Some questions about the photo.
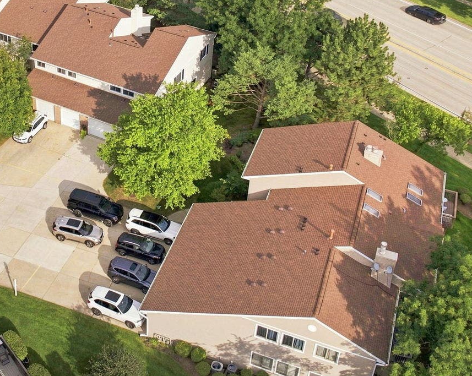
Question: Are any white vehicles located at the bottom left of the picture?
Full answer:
Yes, looking at the bottom left of the picture, one can make out a white vehicle.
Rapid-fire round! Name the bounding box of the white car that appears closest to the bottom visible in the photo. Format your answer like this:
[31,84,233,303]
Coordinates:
[85,285,144,328]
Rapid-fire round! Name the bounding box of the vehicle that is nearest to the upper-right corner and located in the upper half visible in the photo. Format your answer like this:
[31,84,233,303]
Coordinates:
[405,3,446,24]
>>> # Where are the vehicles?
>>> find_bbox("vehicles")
[85,285,144,328]
[13,113,50,145]
[65,188,127,226]
[405,3,446,24]
[49,215,105,248]
[103,255,158,294]
[111,228,168,264]
[125,207,181,245]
